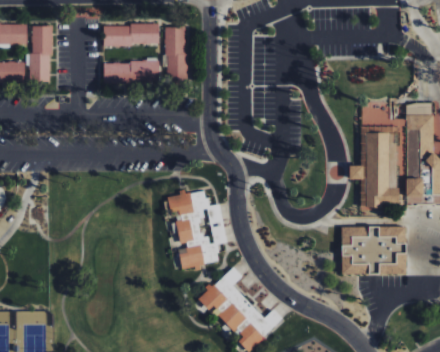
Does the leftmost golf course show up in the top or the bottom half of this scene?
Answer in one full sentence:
The bottom half of the photo is where the leftmost golf course is.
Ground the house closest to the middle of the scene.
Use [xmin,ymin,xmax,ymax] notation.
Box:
[168,190,226,271]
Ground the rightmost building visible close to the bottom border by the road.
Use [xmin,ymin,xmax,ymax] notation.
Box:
[198,266,284,352]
